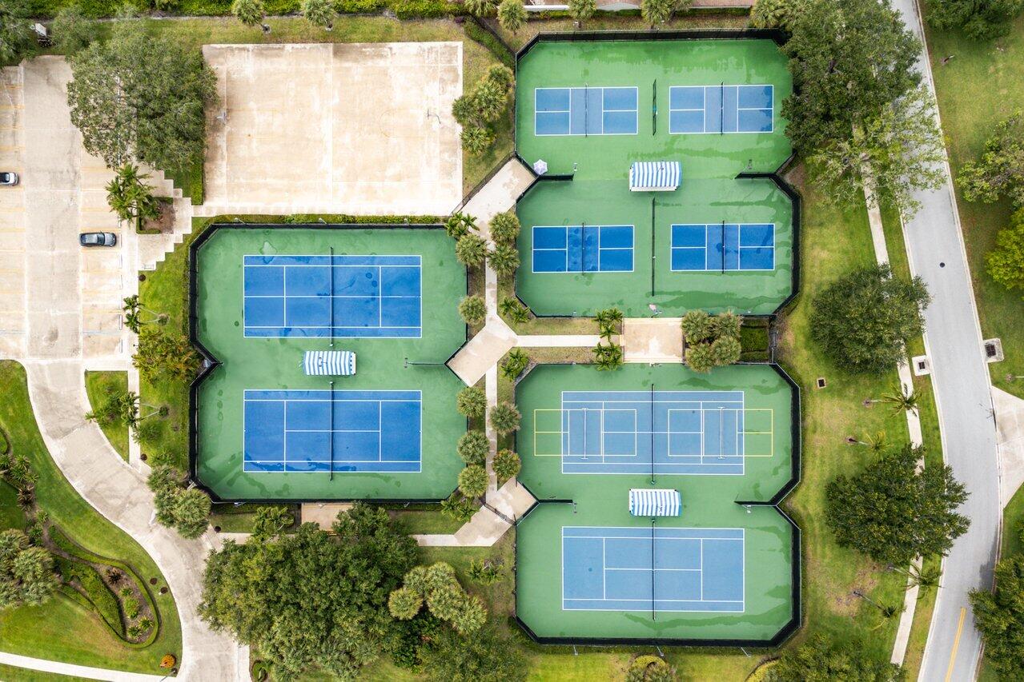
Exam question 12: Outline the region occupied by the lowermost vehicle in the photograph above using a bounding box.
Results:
[79,230,118,248]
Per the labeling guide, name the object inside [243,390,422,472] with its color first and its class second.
blue tennis court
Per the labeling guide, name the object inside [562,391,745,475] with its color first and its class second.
blue tennis court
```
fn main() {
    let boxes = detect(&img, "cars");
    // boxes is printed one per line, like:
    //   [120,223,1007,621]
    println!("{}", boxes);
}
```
[0,170,20,186]
[79,230,118,248]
